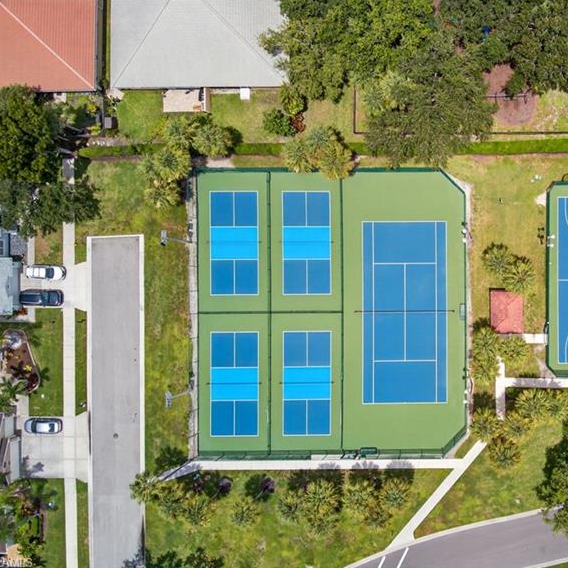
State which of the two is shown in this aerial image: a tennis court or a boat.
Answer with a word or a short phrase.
tennis court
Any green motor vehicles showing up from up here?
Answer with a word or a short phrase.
No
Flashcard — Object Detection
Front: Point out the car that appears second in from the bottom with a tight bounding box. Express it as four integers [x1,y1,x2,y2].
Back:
[19,288,62,307]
